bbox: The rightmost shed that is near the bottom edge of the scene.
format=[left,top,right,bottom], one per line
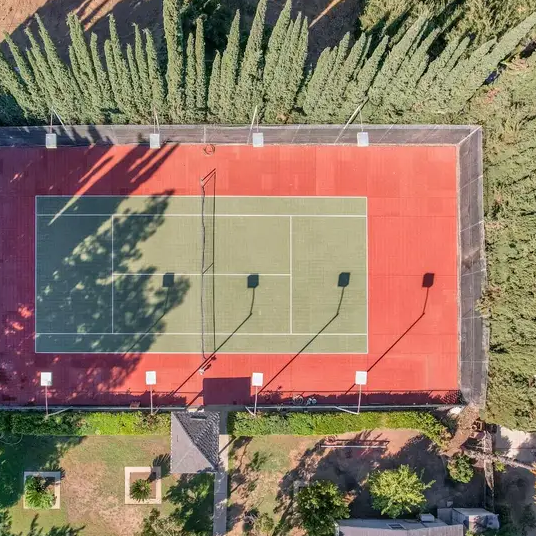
[443,502,498,528]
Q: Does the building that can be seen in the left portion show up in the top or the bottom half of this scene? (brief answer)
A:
bottom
